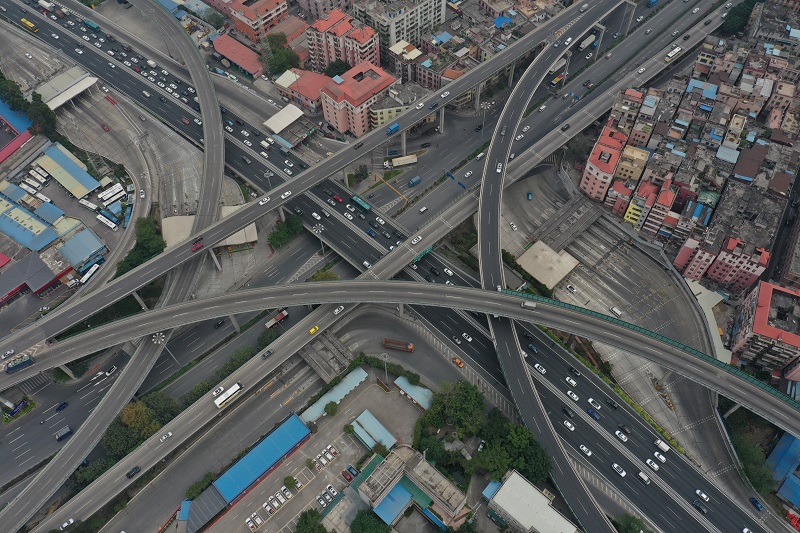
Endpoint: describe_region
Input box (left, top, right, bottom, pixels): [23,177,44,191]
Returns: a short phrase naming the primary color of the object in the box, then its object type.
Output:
white vehicle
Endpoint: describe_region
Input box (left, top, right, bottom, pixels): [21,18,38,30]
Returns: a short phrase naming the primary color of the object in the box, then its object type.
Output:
yellow vehicle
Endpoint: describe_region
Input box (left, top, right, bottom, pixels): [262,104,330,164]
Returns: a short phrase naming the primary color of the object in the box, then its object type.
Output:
white toll station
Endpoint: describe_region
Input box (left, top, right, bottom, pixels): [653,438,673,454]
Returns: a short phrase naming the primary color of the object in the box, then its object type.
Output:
white vehicle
